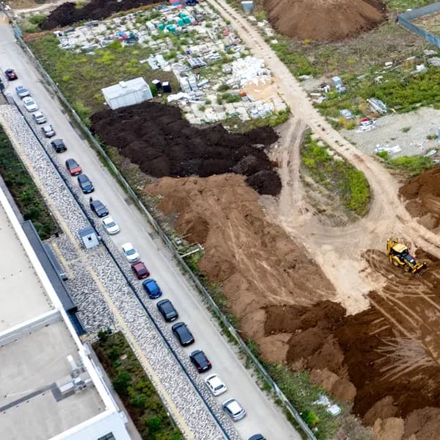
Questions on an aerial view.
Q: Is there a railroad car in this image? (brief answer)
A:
No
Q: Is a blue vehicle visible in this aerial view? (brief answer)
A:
Yes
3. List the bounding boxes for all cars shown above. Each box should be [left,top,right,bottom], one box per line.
[23,99,37,110]
[155,296,178,321]
[102,216,119,234]
[88,196,107,216]
[77,176,93,192]
[65,159,80,175]
[204,375,229,399]
[131,262,149,279]
[222,399,247,425]
[32,110,46,123]
[140,278,161,299]
[5,69,17,79]
[172,323,194,345]
[15,85,29,97]
[121,244,139,262]
[190,350,211,372]
[51,138,65,153]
